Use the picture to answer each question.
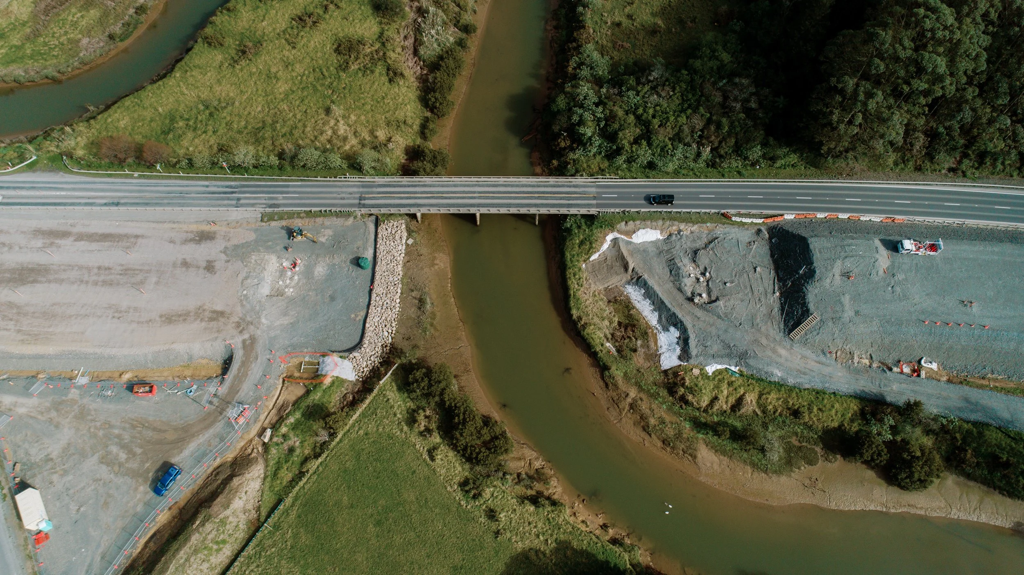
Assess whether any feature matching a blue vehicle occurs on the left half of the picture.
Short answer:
Yes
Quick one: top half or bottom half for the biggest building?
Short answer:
bottom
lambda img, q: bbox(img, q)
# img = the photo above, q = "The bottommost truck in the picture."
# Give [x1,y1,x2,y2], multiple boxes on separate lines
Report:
[153,467,180,498]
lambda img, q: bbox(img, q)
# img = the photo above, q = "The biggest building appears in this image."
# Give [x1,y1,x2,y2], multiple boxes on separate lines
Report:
[14,490,49,530]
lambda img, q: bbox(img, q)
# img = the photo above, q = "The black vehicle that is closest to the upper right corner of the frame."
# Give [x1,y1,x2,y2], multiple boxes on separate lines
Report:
[652,193,676,205]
